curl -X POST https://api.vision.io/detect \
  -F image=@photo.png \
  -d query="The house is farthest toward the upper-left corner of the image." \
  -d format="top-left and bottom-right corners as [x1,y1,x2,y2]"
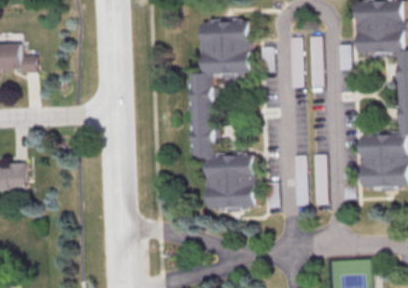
[0,32,42,72]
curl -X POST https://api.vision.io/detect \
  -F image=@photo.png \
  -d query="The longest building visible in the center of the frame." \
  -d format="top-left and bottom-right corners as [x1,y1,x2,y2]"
[188,14,262,214]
